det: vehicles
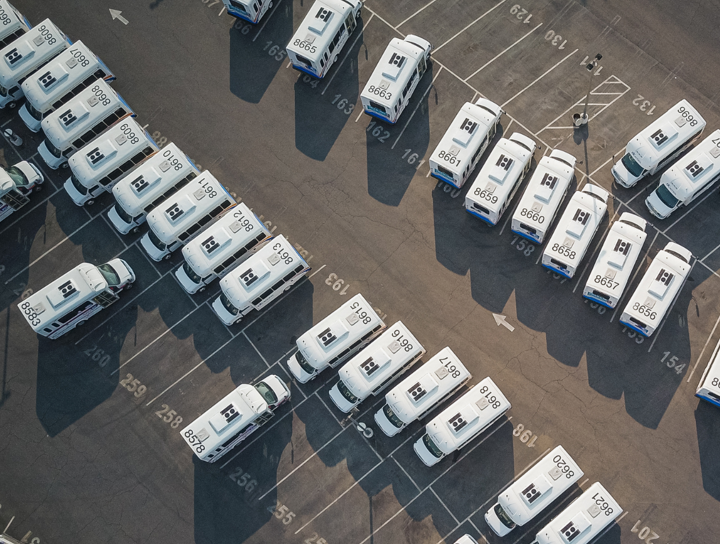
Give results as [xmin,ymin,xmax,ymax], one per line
[609,99,706,190]
[520,483,622,544]
[170,204,274,294]
[411,378,513,469]
[0,0,33,50]
[32,80,136,171]
[481,447,583,539]
[540,185,618,281]
[325,323,427,414]
[17,259,134,344]
[644,130,720,220]
[362,34,438,126]
[509,149,587,245]
[0,162,45,220]
[579,214,657,311]
[694,341,720,409]
[465,132,544,227]
[0,20,73,109]
[207,235,310,327]
[283,294,387,385]
[429,98,508,192]
[180,376,291,468]
[370,348,473,438]
[59,117,160,207]
[102,144,202,235]
[288,0,366,82]
[223,0,273,26]
[618,243,698,340]
[12,41,115,133]
[136,171,237,263]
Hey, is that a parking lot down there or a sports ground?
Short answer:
parking lot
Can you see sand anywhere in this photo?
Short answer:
No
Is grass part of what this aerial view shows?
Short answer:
No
